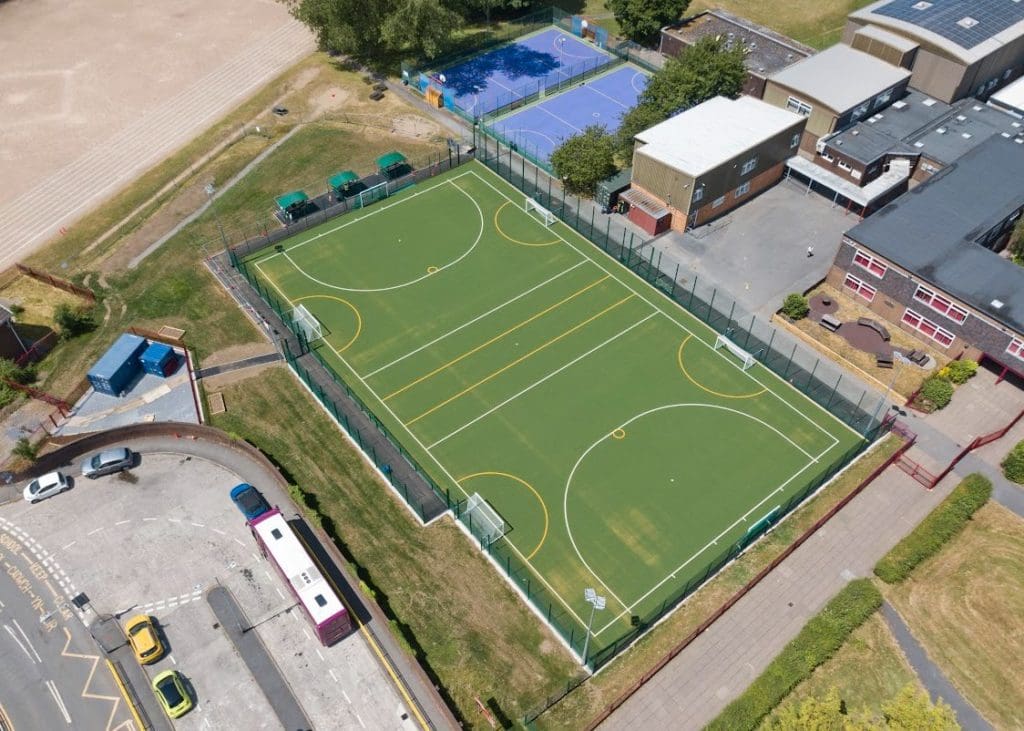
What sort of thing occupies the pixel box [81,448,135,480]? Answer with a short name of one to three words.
car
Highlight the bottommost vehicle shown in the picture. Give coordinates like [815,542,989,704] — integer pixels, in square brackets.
[152,666,192,721]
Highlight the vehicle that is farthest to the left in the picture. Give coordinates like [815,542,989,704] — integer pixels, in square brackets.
[20,467,71,503]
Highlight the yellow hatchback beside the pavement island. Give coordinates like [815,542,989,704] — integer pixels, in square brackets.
[123,610,162,662]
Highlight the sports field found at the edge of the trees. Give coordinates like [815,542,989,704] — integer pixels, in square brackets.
[233,158,871,670]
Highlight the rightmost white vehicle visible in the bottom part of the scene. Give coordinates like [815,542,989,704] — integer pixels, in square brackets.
[245,507,351,645]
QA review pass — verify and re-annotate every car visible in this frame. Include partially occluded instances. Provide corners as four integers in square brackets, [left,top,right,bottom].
[123,610,162,662]
[232,483,269,524]
[152,666,192,721]
[20,467,71,503]
[81,448,135,480]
